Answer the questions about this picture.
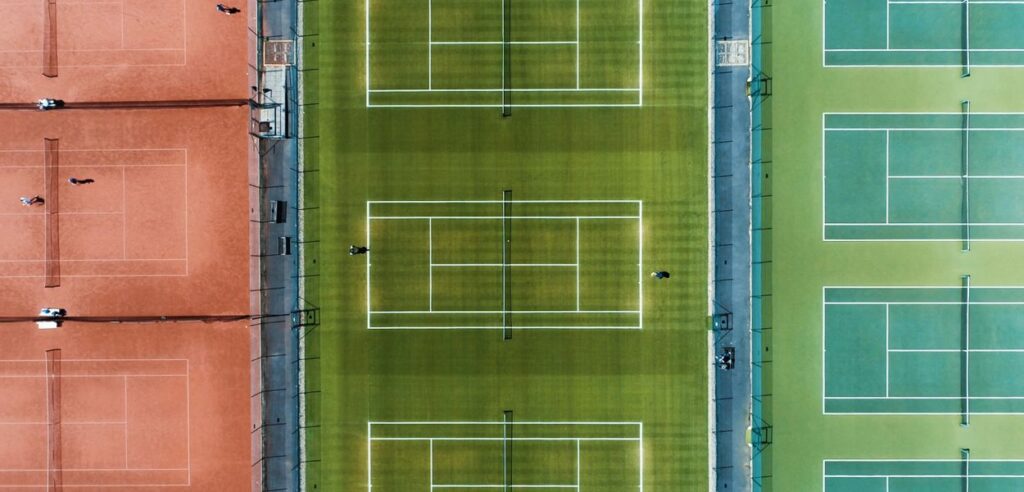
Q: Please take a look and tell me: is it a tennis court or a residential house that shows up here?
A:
tennis court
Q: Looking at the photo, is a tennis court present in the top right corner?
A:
Yes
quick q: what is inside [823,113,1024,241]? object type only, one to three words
tennis court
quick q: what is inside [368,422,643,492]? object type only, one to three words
tennis court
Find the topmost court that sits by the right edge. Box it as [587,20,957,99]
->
[823,0,1024,66]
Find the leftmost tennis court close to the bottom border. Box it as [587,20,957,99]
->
[0,359,190,487]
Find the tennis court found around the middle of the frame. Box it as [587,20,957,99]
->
[367,201,643,329]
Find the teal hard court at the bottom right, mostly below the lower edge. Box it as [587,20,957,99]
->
[823,460,1024,492]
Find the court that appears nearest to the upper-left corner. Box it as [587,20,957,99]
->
[0,0,187,66]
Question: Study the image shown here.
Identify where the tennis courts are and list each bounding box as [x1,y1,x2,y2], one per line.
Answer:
[823,113,1024,241]
[368,422,643,492]
[0,0,187,66]
[823,460,1024,492]
[367,201,643,329]
[823,287,1024,414]
[0,359,190,487]
[0,148,189,277]
[366,0,642,107]
[823,0,1024,66]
